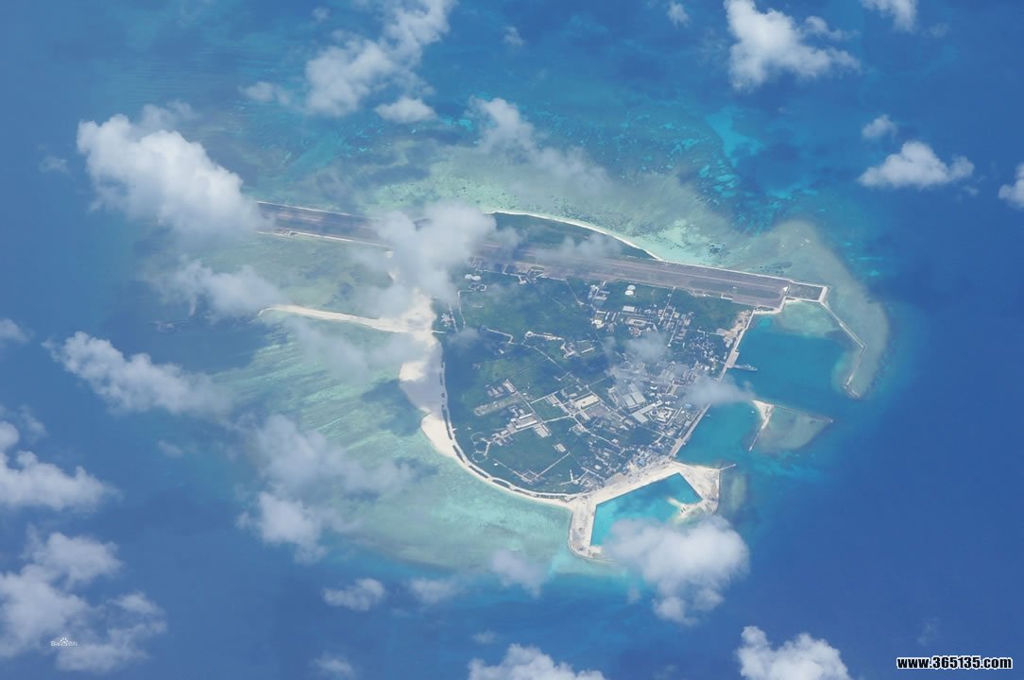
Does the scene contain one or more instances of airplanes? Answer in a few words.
No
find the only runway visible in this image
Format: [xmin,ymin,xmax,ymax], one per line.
[253,212,780,292]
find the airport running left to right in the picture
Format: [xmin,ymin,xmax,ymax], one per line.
[253,201,827,315]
